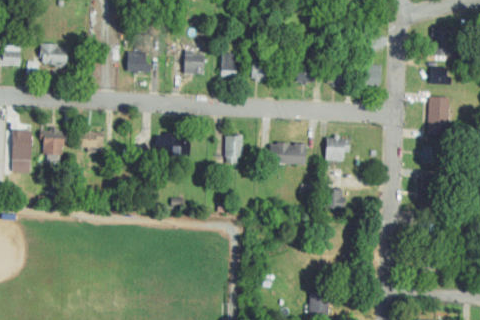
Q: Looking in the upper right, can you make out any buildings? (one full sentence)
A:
Yes, a building appears in the upper right.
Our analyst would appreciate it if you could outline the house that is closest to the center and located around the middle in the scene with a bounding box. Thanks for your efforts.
[224,135,243,164]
